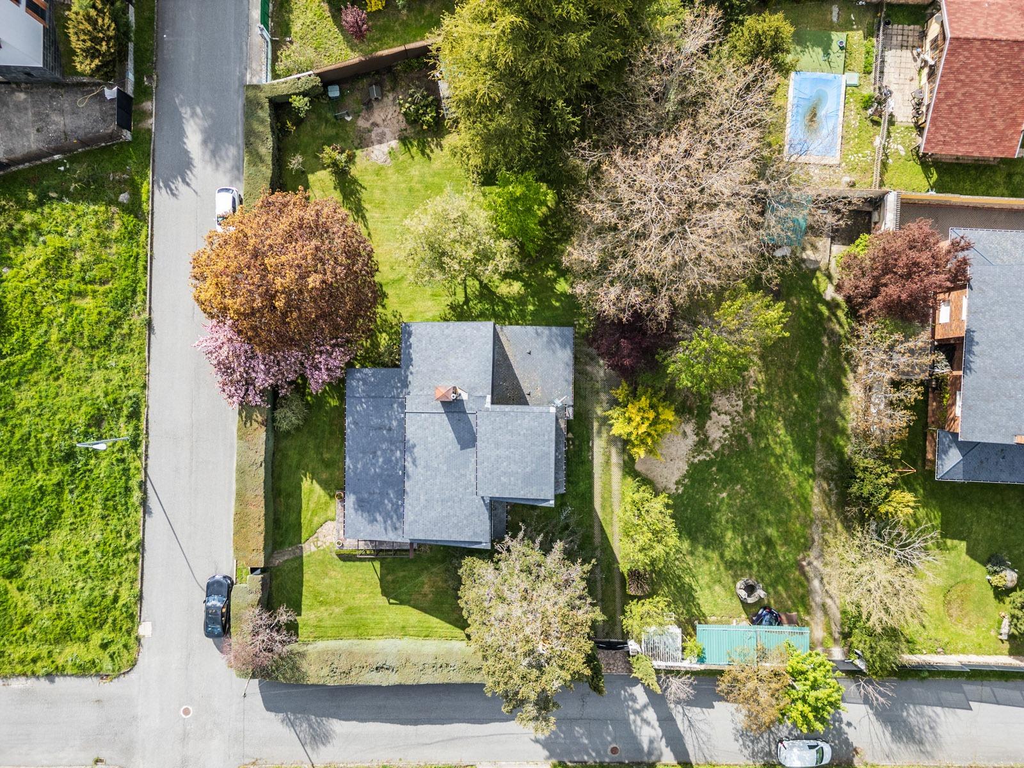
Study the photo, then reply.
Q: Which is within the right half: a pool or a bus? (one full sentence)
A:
Looking within the right half, you will find a pool.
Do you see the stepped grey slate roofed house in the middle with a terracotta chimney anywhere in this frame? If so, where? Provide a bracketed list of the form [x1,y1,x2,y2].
[343,321,576,558]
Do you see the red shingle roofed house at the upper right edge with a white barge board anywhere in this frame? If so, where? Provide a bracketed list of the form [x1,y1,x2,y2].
[919,0,1024,163]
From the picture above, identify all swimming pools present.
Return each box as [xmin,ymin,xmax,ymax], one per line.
[785,69,846,163]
